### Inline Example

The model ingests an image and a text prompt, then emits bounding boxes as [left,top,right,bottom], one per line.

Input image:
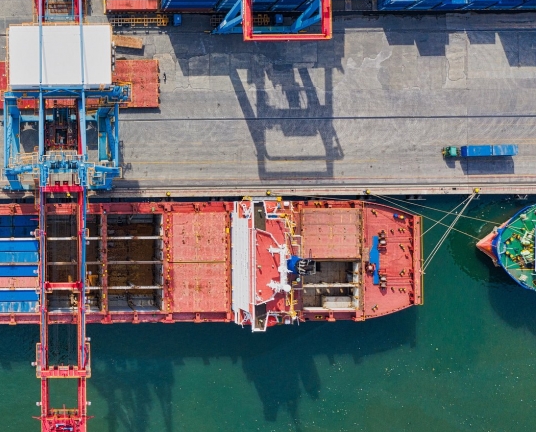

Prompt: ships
[478,205,536,288]
[0,193,424,328]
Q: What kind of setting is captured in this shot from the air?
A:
port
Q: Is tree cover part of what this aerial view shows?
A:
No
